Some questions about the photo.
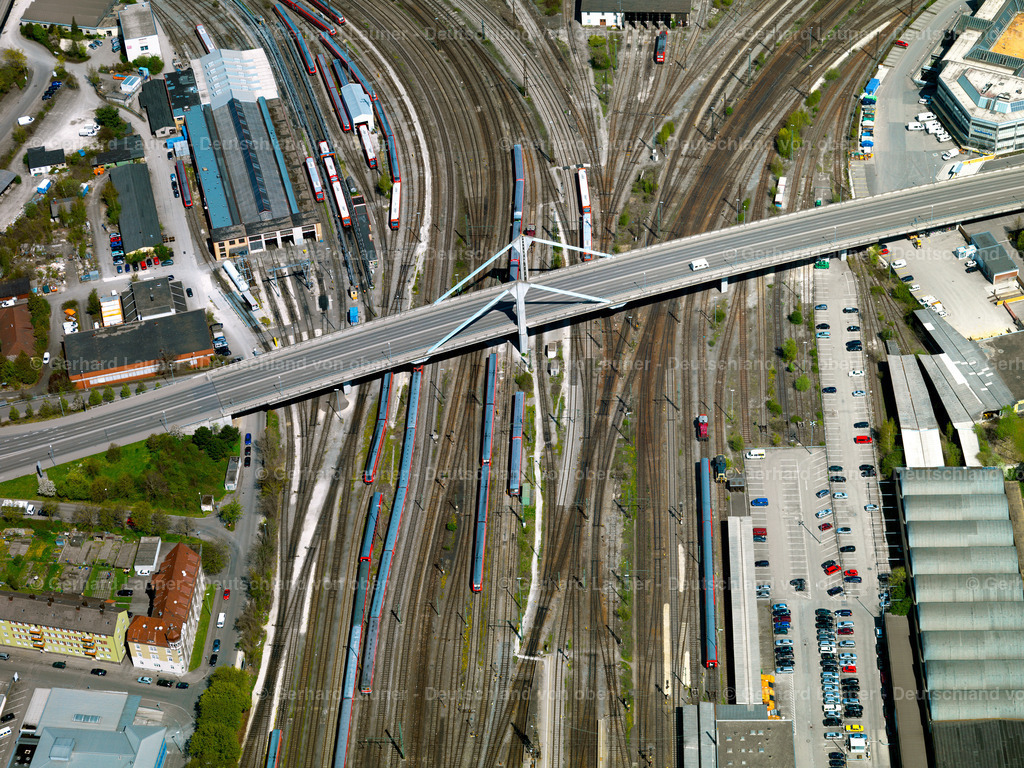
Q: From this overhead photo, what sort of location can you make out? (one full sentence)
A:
This image shows a rail yard.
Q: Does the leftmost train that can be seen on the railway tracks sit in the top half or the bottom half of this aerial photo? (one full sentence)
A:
It is in the top half that the leftmost train that can be seen on the railway tracks appears.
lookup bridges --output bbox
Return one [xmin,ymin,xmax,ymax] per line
[224,163,1024,412]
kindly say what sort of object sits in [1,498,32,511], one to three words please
vehicle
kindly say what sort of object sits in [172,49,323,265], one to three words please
shed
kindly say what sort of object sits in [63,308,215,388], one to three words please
building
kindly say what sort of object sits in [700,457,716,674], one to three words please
train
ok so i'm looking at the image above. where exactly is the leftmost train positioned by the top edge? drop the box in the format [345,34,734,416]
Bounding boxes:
[195,25,215,58]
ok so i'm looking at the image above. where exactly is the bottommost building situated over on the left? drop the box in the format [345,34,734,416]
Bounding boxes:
[12,688,170,768]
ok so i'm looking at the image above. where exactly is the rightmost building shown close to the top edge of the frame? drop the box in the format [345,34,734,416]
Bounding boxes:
[911,0,1024,165]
